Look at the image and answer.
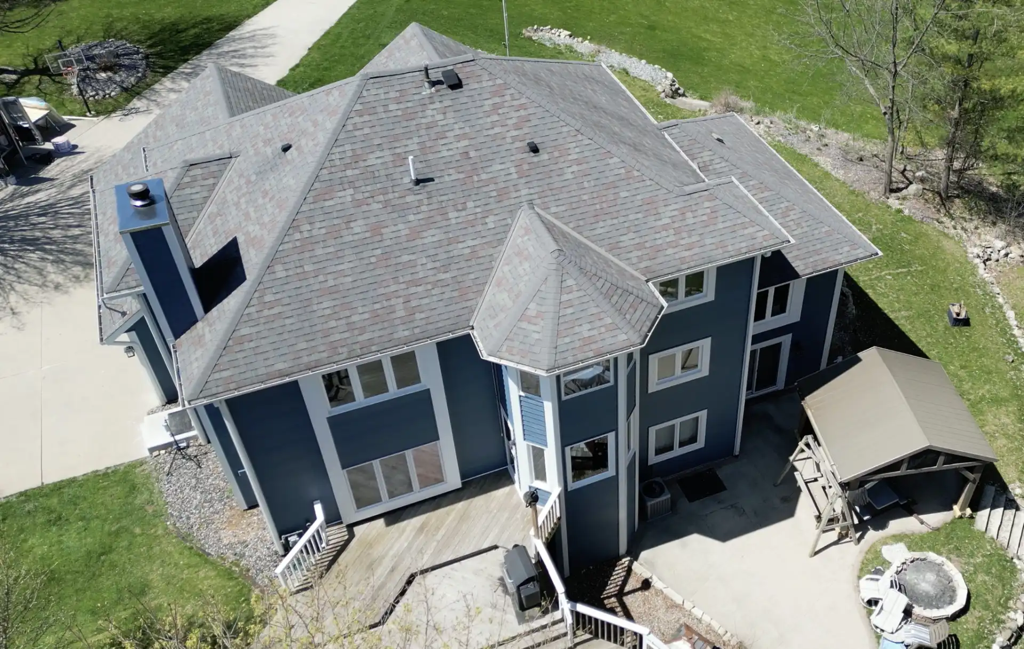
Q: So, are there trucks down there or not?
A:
No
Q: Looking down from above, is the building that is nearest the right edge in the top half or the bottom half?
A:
bottom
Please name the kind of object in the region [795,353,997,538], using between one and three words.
building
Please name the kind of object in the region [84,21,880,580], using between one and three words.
house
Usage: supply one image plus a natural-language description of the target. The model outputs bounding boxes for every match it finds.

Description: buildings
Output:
[795,353,997,538]
[84,21,880,580]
